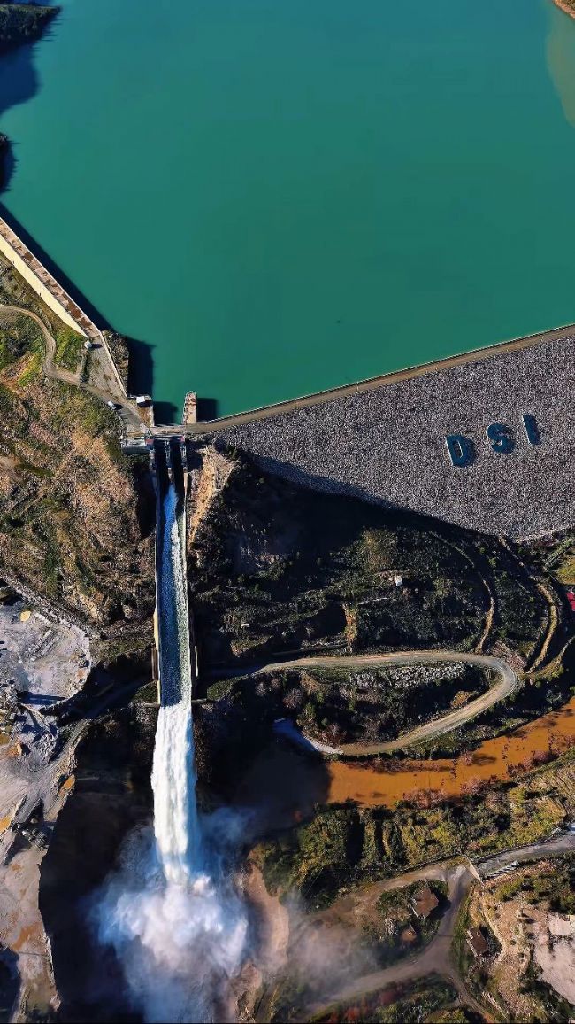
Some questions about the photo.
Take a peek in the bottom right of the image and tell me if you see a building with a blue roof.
No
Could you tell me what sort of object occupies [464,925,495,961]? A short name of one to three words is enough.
house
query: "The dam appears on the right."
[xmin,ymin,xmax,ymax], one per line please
[193,326,575,541]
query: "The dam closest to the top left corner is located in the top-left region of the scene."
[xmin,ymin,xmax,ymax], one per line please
[0,219,104,339]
